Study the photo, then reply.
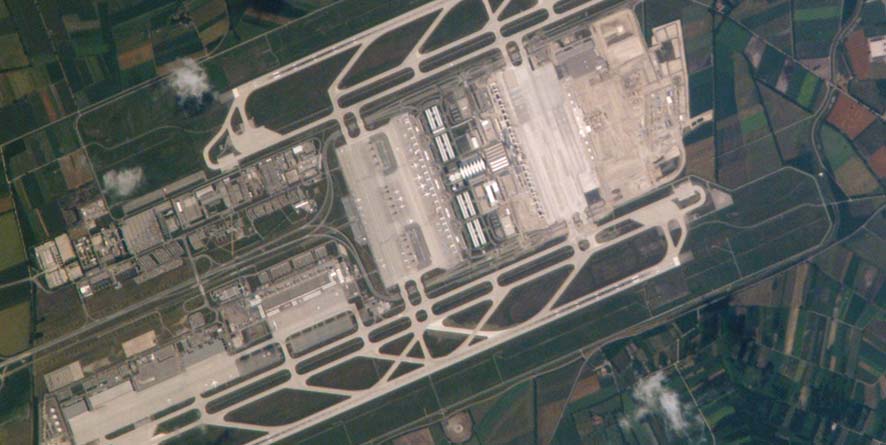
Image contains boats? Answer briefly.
No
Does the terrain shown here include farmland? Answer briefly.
Yes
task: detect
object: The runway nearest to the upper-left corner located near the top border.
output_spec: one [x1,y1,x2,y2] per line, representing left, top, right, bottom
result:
[233,0,459,98]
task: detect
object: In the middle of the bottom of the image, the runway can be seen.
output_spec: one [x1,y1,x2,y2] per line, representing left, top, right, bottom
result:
[245,256,679,445]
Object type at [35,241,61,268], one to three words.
shed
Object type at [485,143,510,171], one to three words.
building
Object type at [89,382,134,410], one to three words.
hangar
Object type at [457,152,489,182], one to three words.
building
